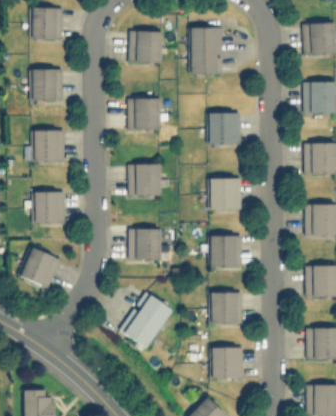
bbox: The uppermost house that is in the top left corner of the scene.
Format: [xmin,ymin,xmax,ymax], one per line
[31,7,62,40]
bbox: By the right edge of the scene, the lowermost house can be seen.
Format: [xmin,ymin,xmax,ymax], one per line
[306,384,336,416]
